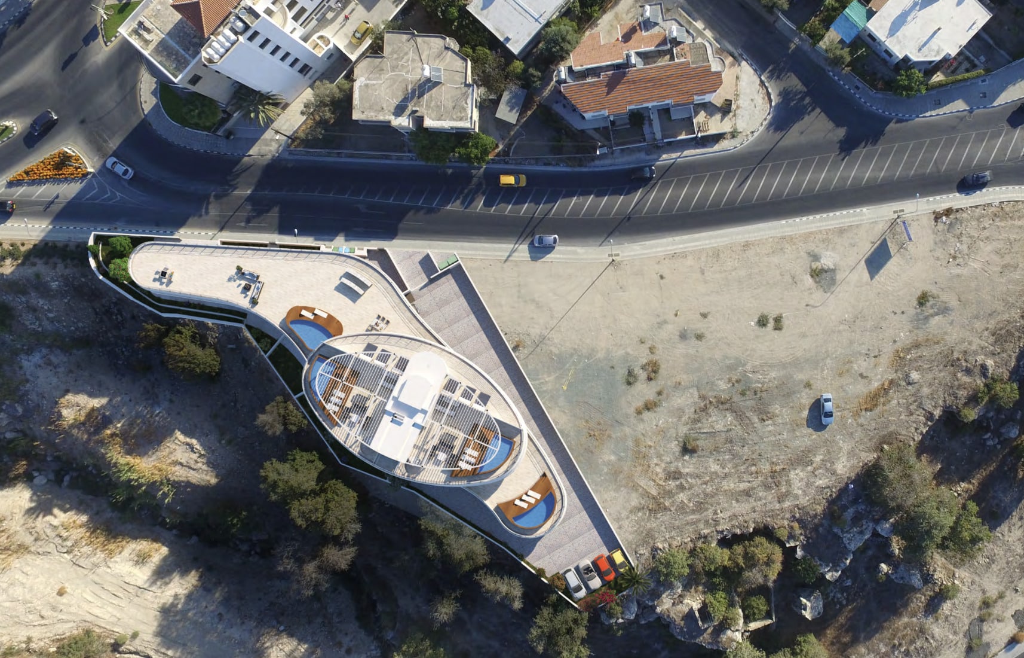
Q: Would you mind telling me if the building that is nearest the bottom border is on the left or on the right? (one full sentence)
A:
It is on the left.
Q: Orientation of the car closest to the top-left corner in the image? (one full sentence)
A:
From this overhead view, the car closest to the top-left corner appears to run on a diagonal.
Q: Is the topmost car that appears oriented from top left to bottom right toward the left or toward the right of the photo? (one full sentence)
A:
The topmost car that appears oriented from top left to bottom right appears in the left half of the scene.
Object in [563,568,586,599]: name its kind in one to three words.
car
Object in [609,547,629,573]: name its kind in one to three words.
car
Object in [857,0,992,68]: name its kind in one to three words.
house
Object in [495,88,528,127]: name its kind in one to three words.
shed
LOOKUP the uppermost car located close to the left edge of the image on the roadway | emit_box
[30,109,58,134]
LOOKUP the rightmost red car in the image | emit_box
[594,553,615,581]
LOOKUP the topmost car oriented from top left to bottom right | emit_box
[105,156,134,181]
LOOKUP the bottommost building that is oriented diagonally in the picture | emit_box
[128,241,567,537]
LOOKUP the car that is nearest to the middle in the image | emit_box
[534,234,559,247]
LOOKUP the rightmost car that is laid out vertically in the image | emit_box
[819,394,834,425]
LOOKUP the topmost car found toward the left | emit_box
[352,19,372,47]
